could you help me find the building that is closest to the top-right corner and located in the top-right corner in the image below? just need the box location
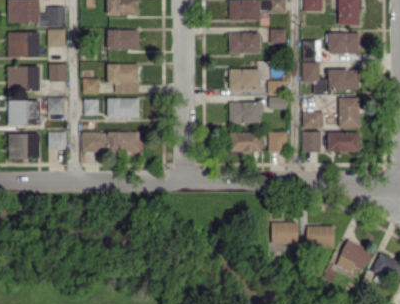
[338,0,362,26]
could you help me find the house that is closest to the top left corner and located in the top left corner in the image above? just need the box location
[8,0,39,24]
